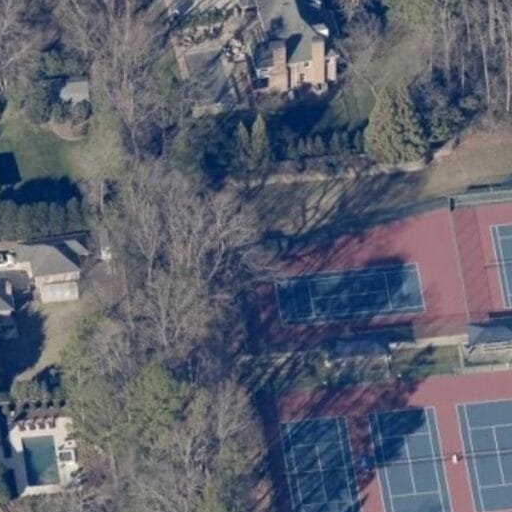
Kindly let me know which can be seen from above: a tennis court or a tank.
tennis court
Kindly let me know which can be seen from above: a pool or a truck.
pool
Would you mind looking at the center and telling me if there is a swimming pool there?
No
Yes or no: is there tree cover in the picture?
Yes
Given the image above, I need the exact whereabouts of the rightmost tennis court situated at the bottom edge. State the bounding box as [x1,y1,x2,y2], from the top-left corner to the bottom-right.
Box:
[456,399,512,512]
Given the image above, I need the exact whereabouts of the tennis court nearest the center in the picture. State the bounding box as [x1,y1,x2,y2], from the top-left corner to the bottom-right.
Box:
[275,263,425,328]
